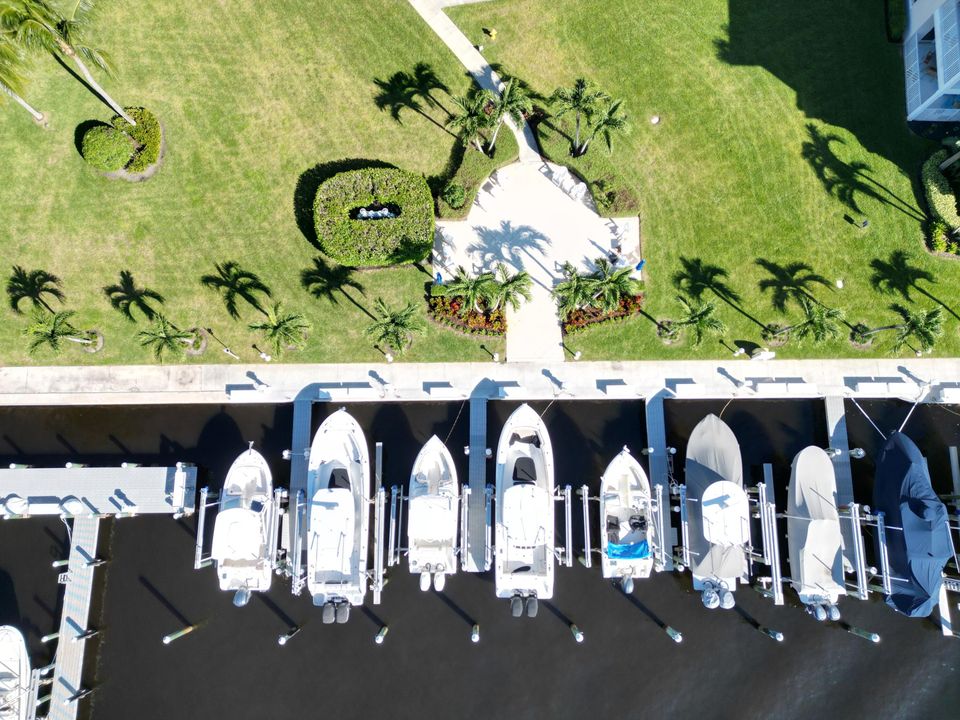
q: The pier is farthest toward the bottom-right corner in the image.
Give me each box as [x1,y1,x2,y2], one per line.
[824,397,861,594]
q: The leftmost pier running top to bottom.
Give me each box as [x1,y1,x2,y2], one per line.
[287,400,312,578]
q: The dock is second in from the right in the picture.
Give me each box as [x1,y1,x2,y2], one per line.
[645,398,680,572]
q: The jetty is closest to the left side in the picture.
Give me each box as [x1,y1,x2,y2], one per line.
[0,467,198,516]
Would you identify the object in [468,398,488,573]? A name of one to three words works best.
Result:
pier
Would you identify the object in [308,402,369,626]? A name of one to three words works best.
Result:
boat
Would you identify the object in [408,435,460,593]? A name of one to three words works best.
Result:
boat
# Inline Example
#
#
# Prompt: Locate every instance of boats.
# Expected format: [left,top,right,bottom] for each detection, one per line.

[218,441,277,607]
[0,626,35,720]
[599,442,653,597]
[494,404,554,623]
[308,402,369,626]
[781,445,848,623]
[408,435,460,593]
[867,432,960,622]
[684,413,754,608]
